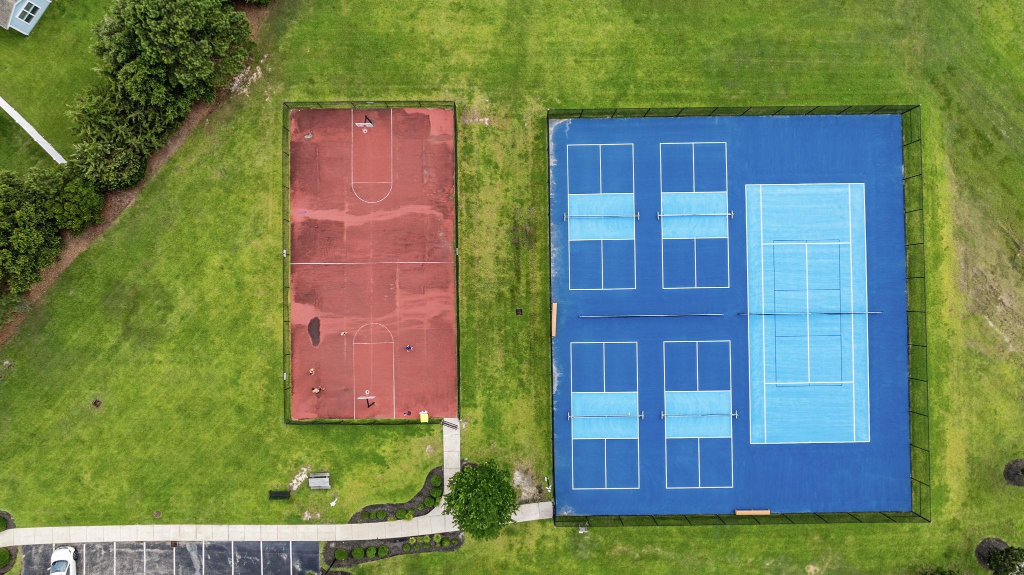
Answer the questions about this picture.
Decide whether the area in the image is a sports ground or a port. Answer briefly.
sports ground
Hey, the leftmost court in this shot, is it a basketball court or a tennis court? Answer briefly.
basketball court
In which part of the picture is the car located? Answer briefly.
bottom left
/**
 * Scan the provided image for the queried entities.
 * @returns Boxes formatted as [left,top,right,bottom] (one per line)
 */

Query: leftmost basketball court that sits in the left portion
[290,108,458,420]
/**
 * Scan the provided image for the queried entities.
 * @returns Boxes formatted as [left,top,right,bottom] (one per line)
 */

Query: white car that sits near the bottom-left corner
[46,545,76,575]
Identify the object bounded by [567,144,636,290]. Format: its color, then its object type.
blue sports court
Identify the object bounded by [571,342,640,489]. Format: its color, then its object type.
blue sports court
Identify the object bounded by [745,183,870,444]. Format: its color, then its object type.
blue tennis court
